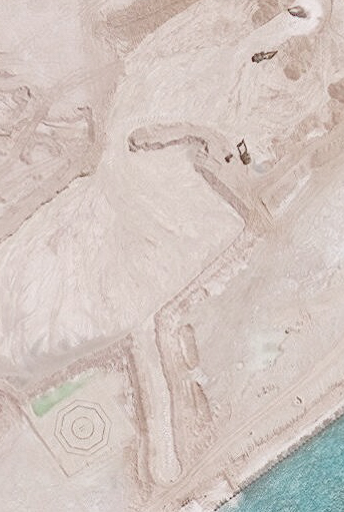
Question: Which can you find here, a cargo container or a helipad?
helipad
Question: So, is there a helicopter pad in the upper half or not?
No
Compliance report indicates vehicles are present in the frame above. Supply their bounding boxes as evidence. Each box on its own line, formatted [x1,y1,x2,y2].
[240,139,251,165]
[225,153,234,161]
[288,7,308,20]
[251,50,276,64]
